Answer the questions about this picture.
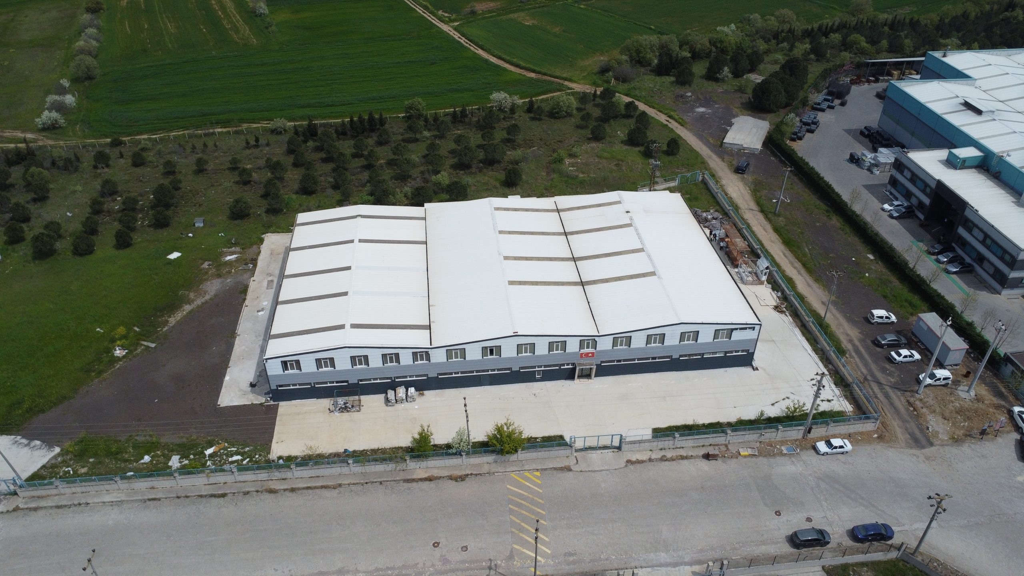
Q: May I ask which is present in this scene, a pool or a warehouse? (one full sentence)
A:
Visible in the photo is a warehouse.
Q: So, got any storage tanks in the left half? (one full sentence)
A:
No, no storage tank appears in the left half.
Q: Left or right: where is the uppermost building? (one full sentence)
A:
The uppermost building appears in the right half of the scene.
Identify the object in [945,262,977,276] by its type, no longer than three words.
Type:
car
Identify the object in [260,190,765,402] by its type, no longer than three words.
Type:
warehouse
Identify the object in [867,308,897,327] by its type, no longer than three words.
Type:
vehicle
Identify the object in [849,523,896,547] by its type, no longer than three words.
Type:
car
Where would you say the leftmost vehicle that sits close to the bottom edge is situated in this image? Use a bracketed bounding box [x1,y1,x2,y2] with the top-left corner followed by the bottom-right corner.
[788,527,834,552]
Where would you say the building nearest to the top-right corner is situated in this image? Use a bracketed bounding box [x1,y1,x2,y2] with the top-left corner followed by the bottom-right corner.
[878,42,1024,187]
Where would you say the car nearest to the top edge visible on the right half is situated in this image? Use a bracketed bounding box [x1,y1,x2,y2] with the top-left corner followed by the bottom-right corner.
[736,160,749,174]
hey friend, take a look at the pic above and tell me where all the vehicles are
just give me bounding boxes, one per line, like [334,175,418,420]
[927,244,958,256]
[935,253,965,266]
[867,308,897,327]
[874,334,909,349]
[945,262,977,276]
[888,349,922,366]
[890,207,916,220]
[918,370,953,388]
[736,160,749,174]
[884,201,909,213]
[849,523,896,547]
[788,527,834,552]
[814,438,854,457]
